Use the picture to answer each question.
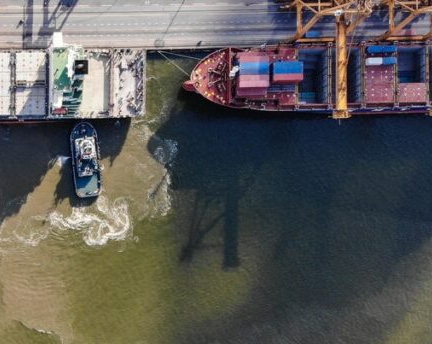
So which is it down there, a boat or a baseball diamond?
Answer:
boat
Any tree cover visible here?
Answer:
No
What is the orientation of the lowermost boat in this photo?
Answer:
up and down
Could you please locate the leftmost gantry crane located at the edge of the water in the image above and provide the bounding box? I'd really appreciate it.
[276,0,368,126]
